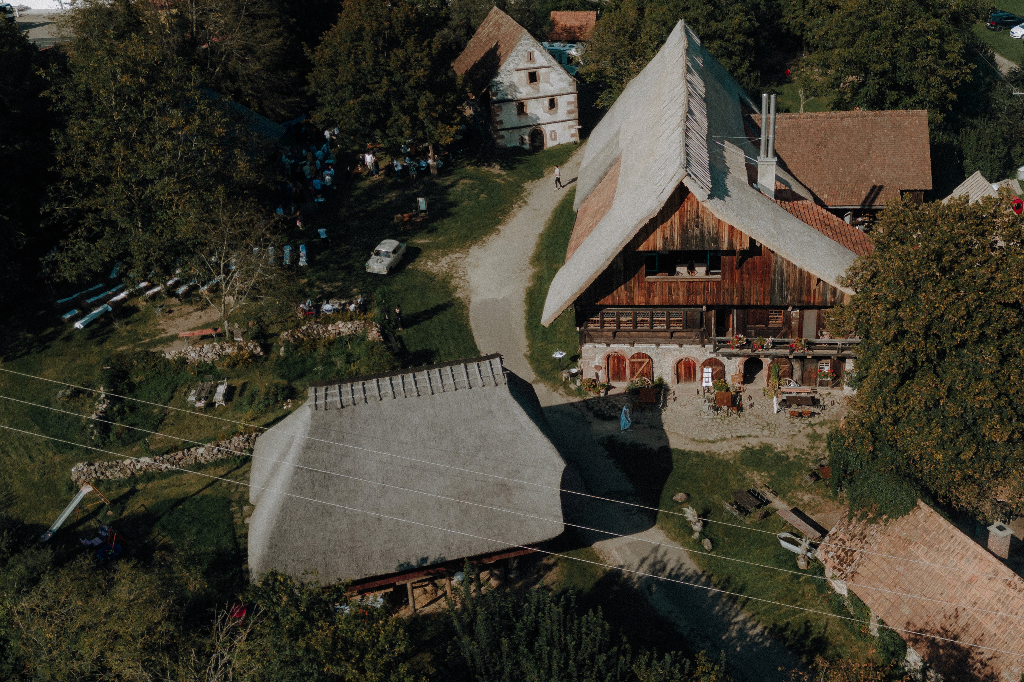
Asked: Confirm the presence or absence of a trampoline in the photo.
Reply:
No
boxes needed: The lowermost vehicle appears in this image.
[363,237,407,274]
